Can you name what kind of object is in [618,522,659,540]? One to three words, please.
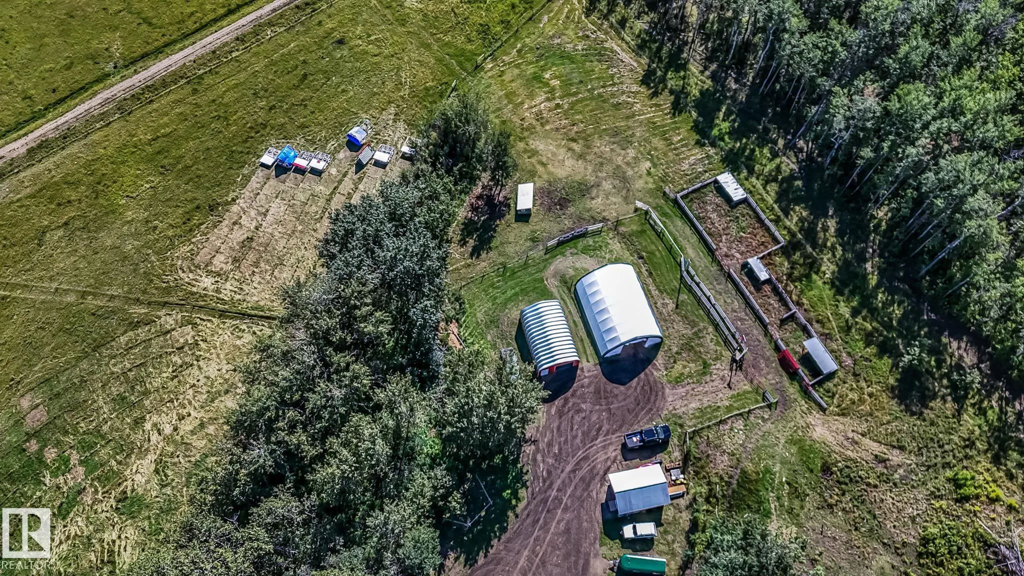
car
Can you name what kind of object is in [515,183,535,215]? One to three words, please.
shed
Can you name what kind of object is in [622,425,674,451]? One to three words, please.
truck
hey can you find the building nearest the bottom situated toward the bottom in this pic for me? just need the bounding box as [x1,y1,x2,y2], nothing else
[604,463,671,516]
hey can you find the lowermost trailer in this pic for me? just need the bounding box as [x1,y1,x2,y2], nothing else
[606,554,671,576]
